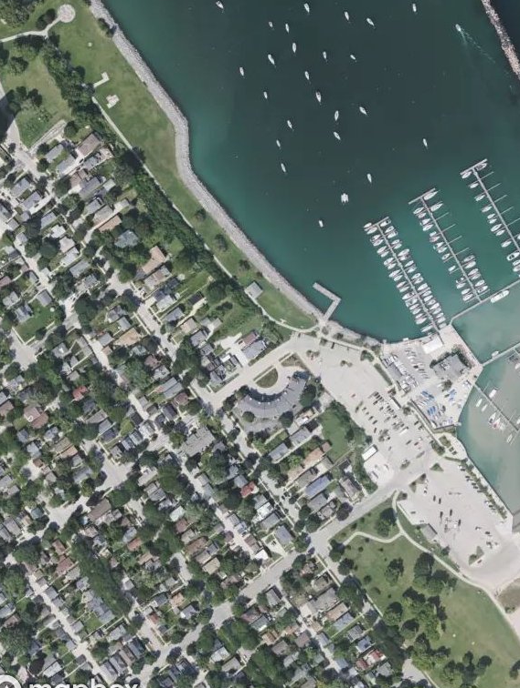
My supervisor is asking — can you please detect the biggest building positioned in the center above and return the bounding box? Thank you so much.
[236,380,310,419]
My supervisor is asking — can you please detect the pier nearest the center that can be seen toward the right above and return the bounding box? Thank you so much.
[313,283,340,325]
